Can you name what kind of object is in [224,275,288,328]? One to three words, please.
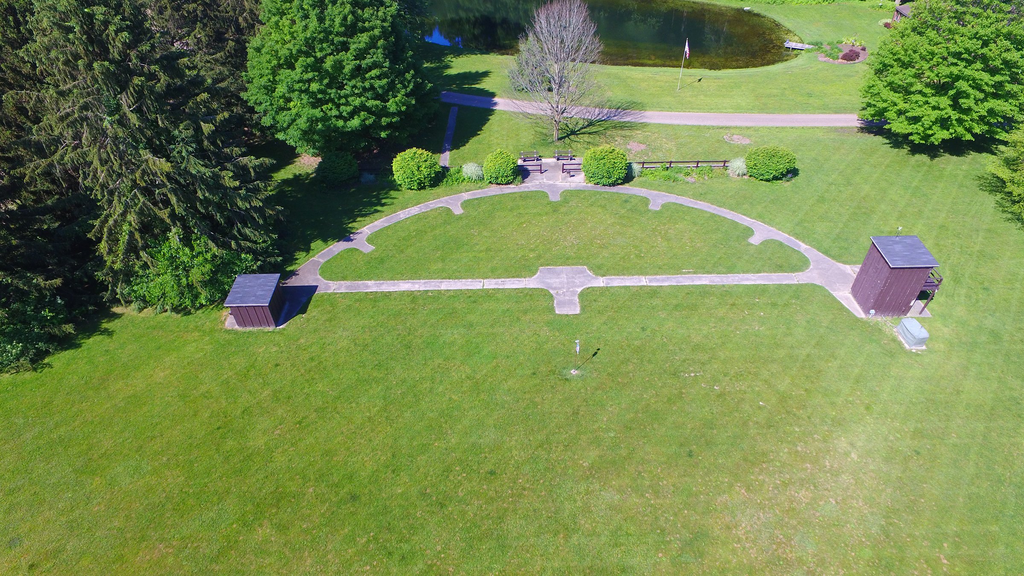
building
